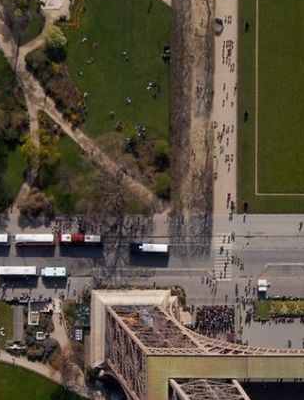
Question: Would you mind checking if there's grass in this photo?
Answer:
Yes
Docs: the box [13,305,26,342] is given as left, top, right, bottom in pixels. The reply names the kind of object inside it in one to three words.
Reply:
building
